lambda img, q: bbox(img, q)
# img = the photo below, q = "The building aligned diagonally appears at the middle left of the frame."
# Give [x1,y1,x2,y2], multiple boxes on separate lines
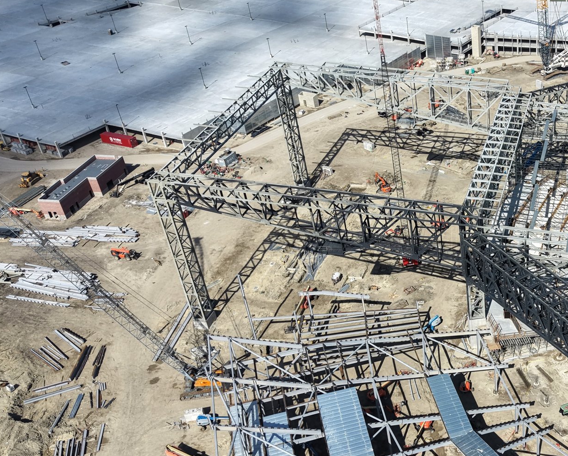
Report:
[36,153,130,218]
